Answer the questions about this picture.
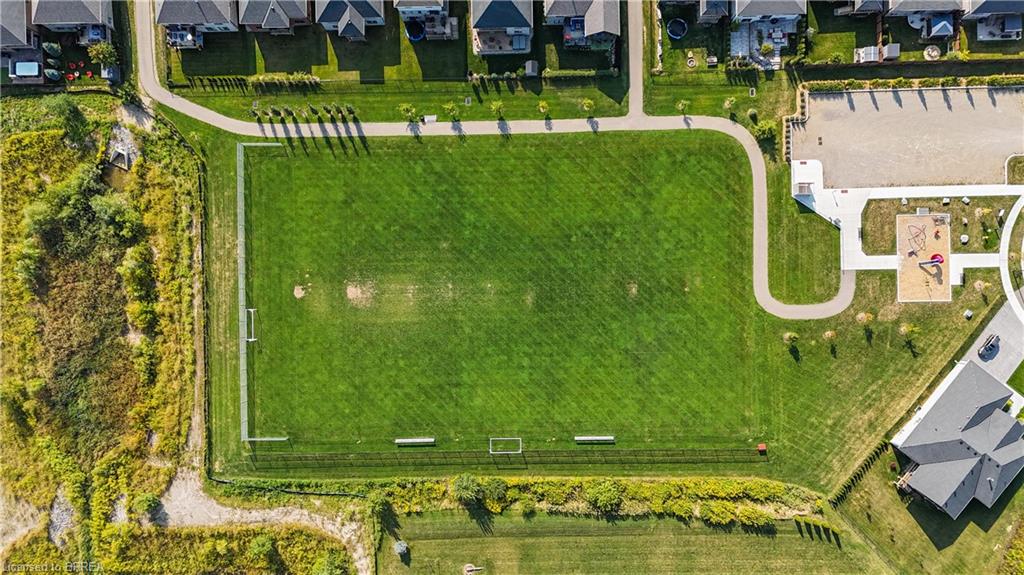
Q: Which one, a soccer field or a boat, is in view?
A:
soccer field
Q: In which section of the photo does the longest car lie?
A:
right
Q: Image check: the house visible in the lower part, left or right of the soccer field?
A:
right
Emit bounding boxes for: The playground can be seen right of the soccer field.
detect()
[897,214,953,303]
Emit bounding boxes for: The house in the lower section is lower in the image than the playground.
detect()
[887,360,1024,521]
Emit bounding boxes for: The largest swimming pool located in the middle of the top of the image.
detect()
[404,17,426,40]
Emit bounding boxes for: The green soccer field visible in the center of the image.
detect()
[252,141,770,452]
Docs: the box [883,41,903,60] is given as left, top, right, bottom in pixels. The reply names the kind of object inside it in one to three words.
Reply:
shed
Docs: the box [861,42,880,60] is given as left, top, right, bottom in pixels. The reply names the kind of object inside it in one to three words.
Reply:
shed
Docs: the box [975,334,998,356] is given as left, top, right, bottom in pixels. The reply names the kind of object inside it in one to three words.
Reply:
car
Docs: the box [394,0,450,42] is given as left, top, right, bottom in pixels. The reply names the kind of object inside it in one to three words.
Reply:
house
